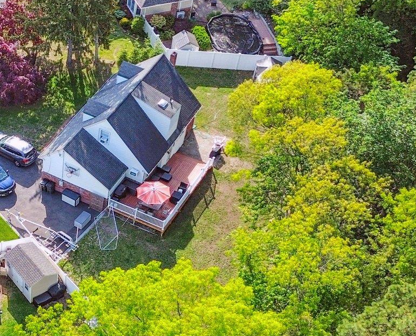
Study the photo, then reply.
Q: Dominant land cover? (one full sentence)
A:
Most of the picture is covered by trees.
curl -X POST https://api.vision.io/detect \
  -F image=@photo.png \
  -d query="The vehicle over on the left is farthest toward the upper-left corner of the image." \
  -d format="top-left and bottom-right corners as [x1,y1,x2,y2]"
[0,136,38,167]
